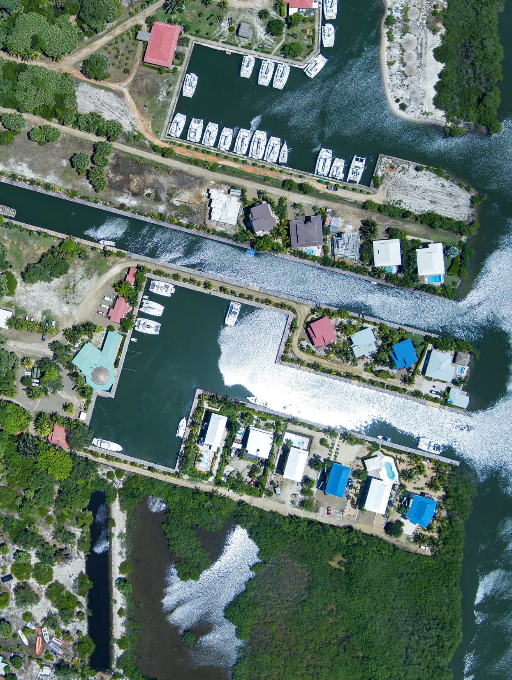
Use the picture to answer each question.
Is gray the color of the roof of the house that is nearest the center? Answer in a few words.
No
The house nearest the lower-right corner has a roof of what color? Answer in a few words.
blue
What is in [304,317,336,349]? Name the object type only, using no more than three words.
house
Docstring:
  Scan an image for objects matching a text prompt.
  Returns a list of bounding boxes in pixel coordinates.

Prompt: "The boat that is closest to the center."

[226,301,241,327]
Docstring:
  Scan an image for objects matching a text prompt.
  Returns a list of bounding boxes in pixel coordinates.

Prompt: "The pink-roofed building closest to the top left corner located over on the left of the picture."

[144,22,181,67]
